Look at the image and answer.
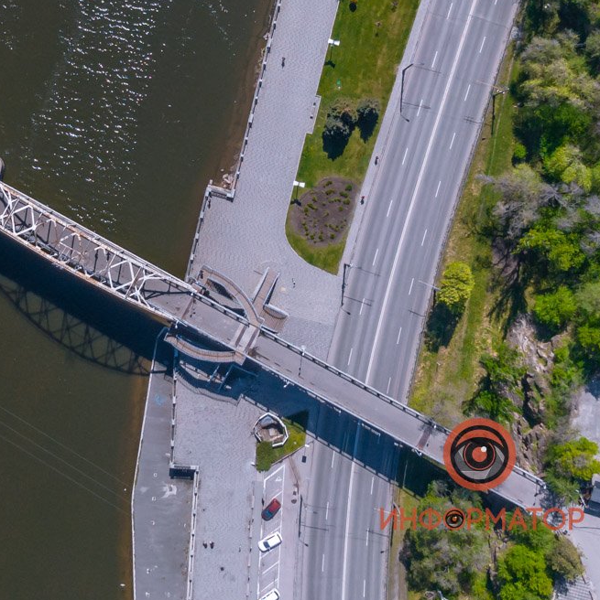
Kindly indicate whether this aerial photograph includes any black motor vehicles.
No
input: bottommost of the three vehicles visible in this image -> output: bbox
[254,587,280,600]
